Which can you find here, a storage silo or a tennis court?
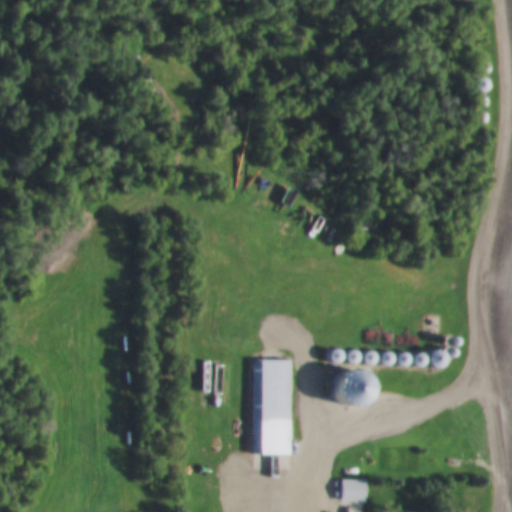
storage silo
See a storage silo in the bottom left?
No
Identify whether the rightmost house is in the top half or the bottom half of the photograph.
bottom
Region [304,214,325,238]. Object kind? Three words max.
vehicle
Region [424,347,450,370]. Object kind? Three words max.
silo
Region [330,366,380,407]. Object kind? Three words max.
silo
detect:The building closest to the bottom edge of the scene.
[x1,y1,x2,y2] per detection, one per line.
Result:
[338,478,370,505]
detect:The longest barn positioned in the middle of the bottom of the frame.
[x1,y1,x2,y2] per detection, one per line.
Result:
[256,358,293,456]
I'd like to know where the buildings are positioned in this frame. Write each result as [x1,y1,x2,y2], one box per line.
[338,478,370,505]
[256,358,293,456]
